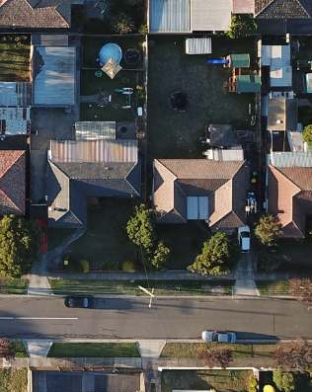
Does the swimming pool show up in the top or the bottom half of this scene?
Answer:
top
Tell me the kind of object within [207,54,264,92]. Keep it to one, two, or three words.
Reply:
playground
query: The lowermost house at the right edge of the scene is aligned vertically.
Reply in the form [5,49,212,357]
[261,131,312,239]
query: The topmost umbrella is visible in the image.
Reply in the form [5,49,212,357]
[101,59,120,78]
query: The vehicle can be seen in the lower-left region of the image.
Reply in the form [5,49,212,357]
[63,295,94,310]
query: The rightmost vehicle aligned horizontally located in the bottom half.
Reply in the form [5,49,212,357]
[198,328,235,342]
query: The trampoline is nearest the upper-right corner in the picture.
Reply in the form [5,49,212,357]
[173,92,191,109]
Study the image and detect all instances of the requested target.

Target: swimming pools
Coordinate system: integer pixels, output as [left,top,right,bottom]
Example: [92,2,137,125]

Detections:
[100,42,124,65]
